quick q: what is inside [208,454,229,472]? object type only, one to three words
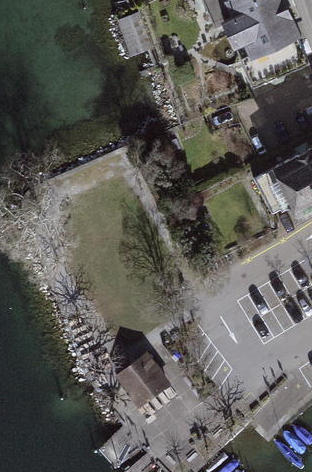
boat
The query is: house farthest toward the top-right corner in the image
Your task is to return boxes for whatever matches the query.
[224,0,302,63]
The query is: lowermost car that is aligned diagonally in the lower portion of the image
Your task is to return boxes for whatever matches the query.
[256,322,273,344]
